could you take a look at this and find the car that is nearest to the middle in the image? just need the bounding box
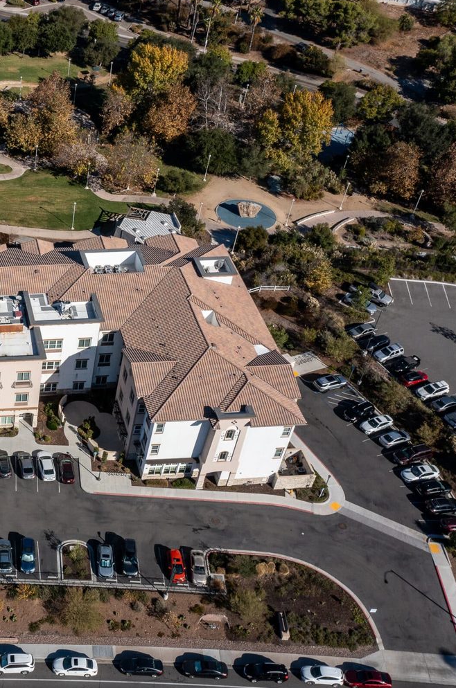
[311,375,349,395]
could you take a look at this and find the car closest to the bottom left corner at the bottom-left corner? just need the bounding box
[0,652,35,676]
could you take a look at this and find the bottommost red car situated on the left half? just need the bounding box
[166,550,187,585]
